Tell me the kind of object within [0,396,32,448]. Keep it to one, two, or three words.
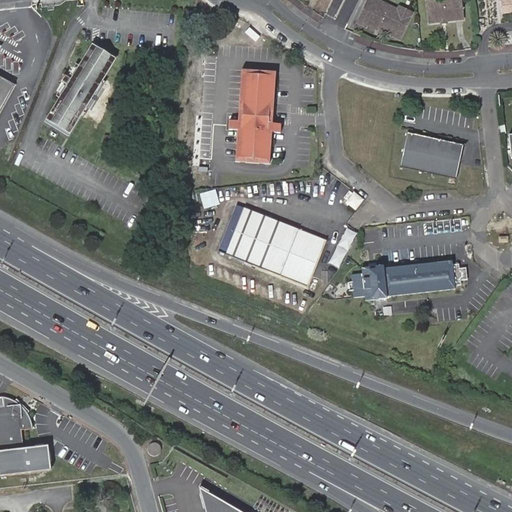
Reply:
building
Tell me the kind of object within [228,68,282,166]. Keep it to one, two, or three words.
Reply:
building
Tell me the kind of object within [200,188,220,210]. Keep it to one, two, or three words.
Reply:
shed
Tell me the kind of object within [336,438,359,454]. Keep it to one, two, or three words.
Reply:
vehicle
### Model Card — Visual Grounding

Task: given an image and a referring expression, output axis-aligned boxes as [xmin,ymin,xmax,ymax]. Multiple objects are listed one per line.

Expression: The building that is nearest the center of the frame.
[219,204,327,289]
